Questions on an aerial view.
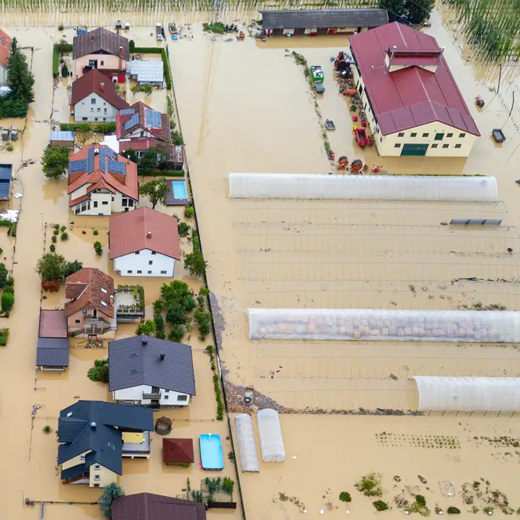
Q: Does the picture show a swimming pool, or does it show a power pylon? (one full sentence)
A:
There is a swimming pool in the scene.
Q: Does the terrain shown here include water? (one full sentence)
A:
Yes, there is water in the image.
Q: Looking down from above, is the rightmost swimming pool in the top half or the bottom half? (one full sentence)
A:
The bottom half of the photo is where the rightmost swimming pool is.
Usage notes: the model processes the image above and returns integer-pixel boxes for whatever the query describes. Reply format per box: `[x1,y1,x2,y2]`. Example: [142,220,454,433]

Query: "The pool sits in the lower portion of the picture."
[199,433,223,474]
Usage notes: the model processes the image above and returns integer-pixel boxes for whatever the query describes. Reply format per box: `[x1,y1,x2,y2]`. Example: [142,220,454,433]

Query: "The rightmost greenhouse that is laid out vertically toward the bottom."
[258,403,286,461]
